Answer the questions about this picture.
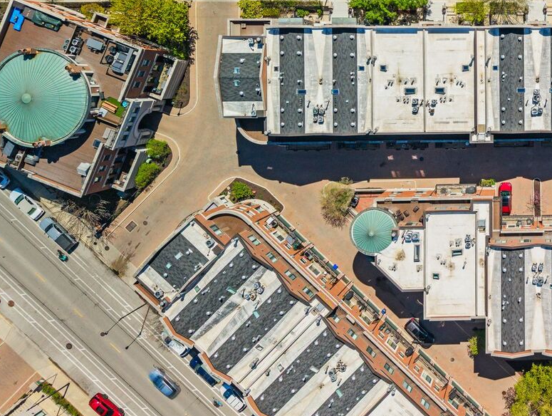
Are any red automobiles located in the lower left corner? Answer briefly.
Yes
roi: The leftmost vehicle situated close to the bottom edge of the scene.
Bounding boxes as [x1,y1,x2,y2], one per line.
[86,392,119,416]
